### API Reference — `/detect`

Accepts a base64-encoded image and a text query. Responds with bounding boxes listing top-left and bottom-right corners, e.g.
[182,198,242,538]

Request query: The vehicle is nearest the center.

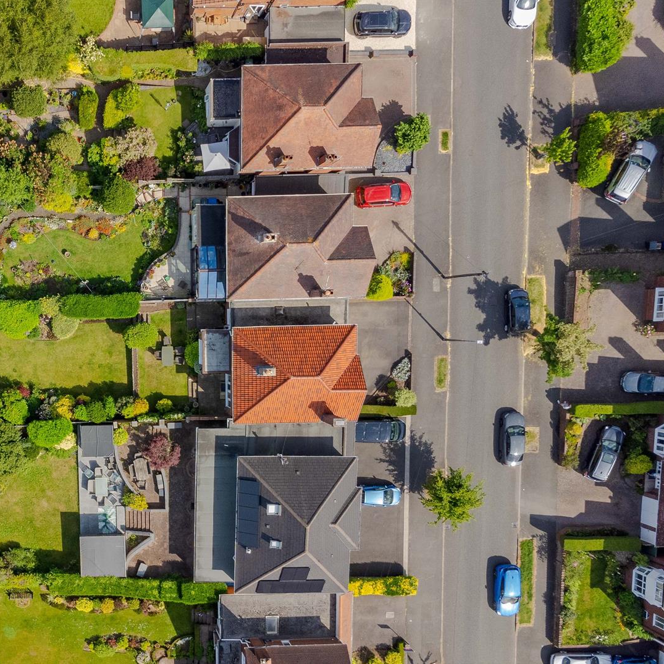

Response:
[356,417,404,445]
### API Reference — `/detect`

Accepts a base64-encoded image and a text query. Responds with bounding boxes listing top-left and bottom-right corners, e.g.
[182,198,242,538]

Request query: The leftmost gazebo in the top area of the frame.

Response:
[139,0,174,38]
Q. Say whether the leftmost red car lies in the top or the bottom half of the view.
top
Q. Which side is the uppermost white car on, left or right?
right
